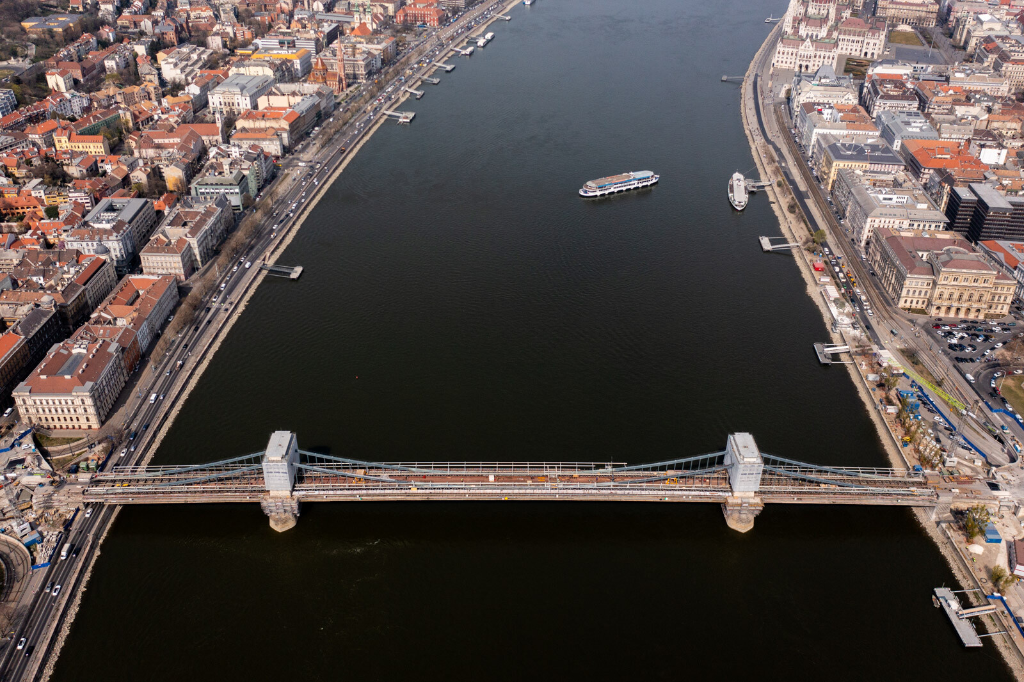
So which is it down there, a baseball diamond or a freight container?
freight container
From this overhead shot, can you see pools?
No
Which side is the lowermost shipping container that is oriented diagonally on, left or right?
right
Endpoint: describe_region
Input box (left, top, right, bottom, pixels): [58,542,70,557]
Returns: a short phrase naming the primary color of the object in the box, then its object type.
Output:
white vehicle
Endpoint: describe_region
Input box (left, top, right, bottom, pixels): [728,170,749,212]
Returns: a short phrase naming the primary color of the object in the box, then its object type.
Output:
white ship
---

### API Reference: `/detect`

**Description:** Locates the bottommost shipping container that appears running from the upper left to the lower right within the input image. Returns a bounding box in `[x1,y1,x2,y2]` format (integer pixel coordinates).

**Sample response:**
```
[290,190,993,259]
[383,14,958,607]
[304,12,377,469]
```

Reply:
[976,520,1010,545]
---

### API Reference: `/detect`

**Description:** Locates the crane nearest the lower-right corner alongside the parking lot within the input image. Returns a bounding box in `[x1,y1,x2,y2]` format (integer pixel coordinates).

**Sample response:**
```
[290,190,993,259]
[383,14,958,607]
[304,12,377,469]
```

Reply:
[884,354,999,467]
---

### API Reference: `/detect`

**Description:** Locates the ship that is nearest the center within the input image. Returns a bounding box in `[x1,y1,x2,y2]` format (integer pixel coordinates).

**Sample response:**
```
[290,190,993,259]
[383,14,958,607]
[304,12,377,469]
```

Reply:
[579,169,659,198]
